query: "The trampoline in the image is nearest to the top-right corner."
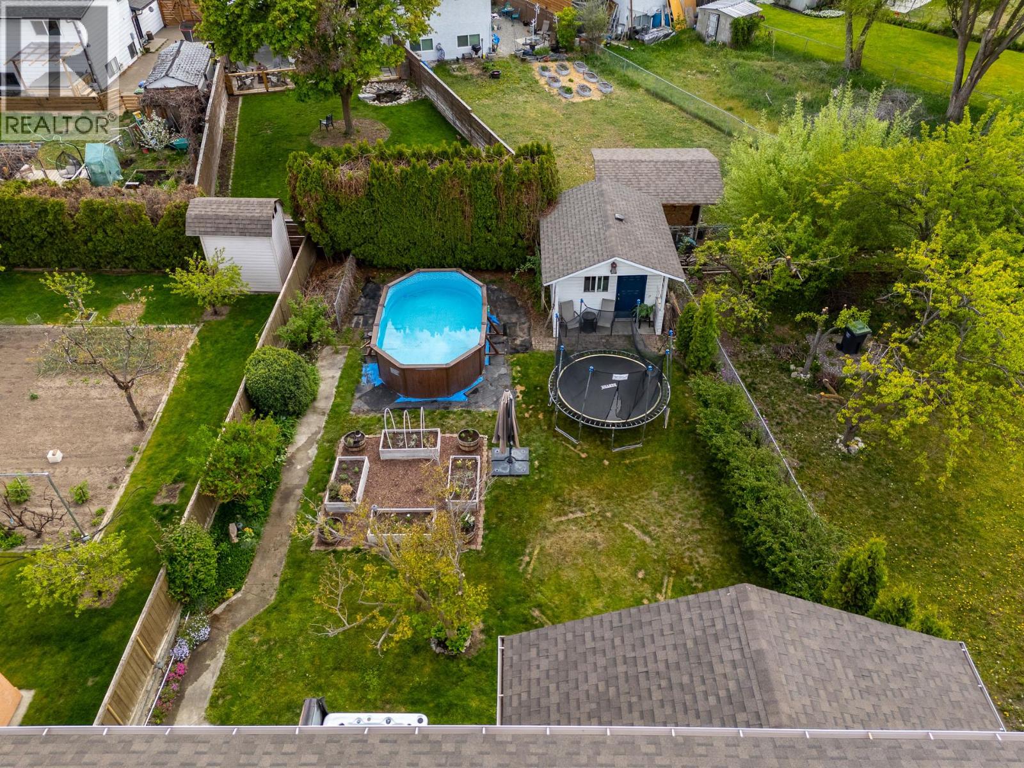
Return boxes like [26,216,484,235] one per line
[546,299,673,453]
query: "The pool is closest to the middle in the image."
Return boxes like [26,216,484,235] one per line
[350,268,512,397]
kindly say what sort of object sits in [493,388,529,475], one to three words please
umbrella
